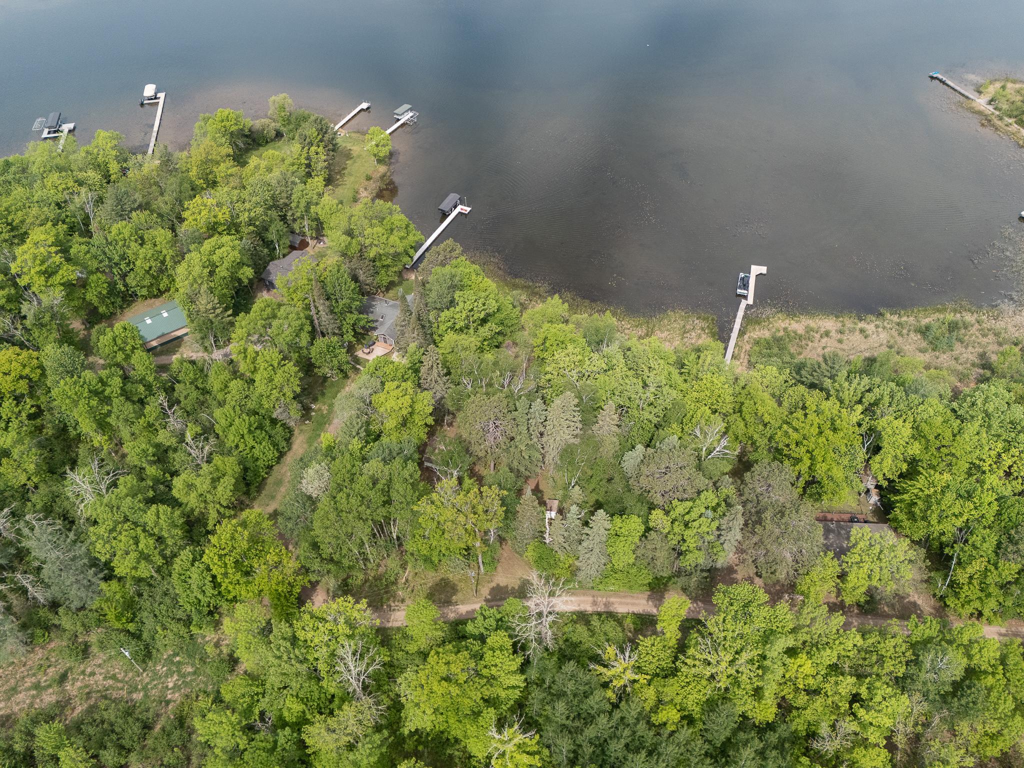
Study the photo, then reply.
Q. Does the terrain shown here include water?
Yes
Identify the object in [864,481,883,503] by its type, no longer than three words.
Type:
shed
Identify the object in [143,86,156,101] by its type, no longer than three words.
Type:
boat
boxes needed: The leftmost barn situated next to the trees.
[129,301,190,352]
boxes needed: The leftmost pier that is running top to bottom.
[144,92,166,143]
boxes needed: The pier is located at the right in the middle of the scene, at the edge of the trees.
[727,264,767,361]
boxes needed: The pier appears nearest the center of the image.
[406,204,472,268]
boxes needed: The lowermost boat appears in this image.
[735,273,750,296]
